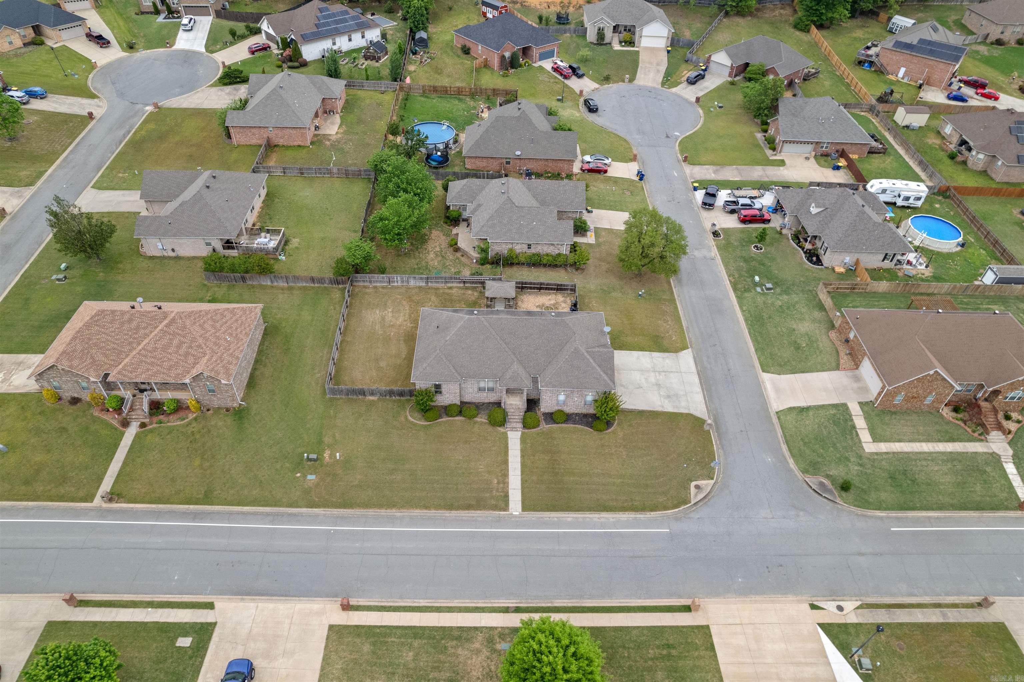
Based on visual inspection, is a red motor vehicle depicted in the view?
Yes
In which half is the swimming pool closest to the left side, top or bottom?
top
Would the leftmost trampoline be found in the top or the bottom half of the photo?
top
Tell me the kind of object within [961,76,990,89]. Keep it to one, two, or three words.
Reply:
vehicle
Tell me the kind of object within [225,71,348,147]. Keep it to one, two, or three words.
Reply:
house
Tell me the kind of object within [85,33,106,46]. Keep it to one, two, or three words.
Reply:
vehicle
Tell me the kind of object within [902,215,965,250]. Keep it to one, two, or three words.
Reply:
swimming pool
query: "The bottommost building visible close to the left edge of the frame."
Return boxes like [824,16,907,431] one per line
[26,296,271,421]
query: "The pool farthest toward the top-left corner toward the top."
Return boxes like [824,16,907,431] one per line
[411,119,455,151]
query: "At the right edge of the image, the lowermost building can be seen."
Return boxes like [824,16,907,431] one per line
[836,306,1024,434]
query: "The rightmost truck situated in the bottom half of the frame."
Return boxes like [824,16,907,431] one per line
[211,654,252,682]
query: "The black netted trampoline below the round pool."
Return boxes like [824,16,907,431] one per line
[423,146,450,168]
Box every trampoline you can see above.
[423,146,450,168]
[555,10,571,23]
